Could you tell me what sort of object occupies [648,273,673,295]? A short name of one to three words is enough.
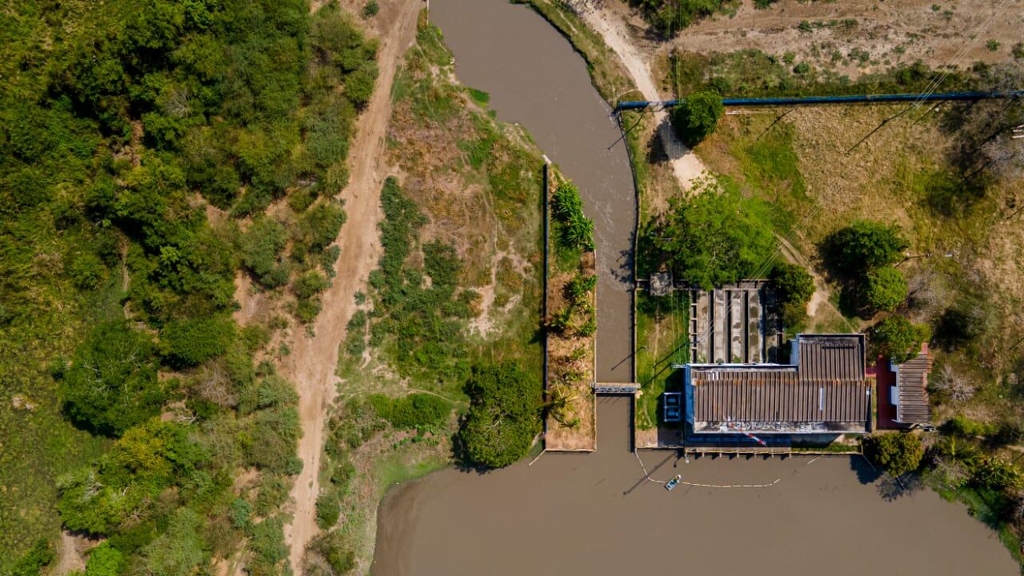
shed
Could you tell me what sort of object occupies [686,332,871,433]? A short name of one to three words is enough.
building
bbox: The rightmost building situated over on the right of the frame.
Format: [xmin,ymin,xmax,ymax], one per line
[877,341,932,427]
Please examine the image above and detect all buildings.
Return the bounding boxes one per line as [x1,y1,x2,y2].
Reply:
[686,332,871,433]
[648,273,673,295]
[877,341,932,427]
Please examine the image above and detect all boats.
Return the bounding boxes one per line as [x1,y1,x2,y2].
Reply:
[664,475,680,491]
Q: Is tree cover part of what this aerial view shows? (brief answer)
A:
Yes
